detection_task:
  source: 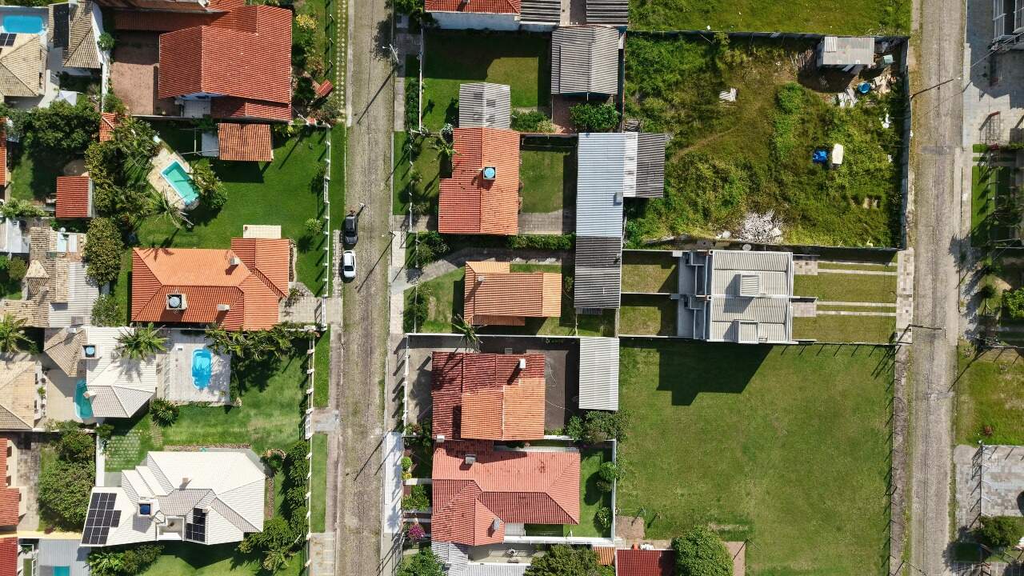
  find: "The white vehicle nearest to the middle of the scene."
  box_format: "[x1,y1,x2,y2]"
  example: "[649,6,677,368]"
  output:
[340,250,356,278]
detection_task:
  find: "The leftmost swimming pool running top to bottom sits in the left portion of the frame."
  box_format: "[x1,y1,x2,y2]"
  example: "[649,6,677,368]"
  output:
[73,378,93,420]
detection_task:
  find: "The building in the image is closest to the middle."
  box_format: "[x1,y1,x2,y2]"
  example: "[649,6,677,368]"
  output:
[464,261,562,326]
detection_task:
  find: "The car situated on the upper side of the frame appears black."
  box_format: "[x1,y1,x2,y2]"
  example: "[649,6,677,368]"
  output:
[342,214,357,243]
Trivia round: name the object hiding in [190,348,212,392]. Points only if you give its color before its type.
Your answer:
blue swimming pool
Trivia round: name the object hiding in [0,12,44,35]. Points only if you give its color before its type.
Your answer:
blue swimming pool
